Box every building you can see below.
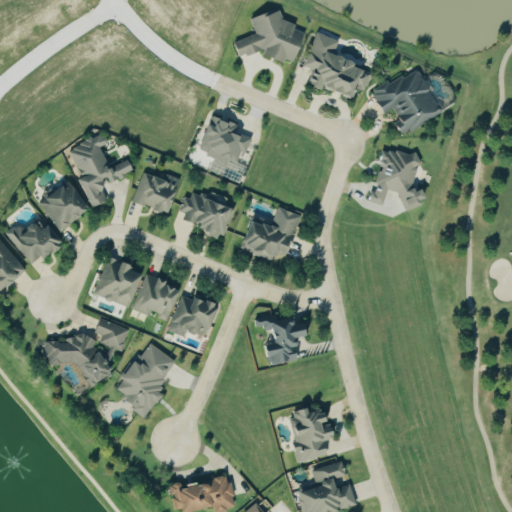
[244,207,302,262]
[134,173,181,216]
[40,182,87,231]
[292,408,334,464]
[369,148,428,211]
[235,8,306,62]
[202,116,254,164]
[132,274,180,320]
[94,260,140,308]
[300,461,359,512]
[306,30,372,101]
[168,294,218,338]
[374,67,446,136]
[179,192,233,240]
[116,344,174,411]
[0,237,28,292]
[71,134,134,208]
[238,502,274,512]
[254,320,308,367]
[42,334,115,392]
[170,478,236,512]
[4,219,61,265]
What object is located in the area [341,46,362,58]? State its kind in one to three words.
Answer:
swimming pool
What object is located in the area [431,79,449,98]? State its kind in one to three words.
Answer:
swimming pool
